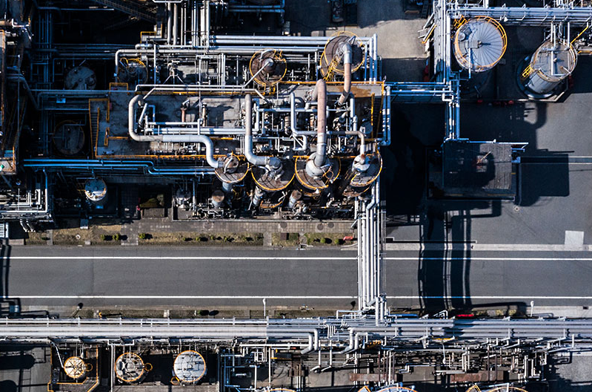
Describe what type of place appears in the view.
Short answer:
industrial area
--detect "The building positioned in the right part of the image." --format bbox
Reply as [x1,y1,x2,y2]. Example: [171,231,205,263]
[430,140,526,201]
